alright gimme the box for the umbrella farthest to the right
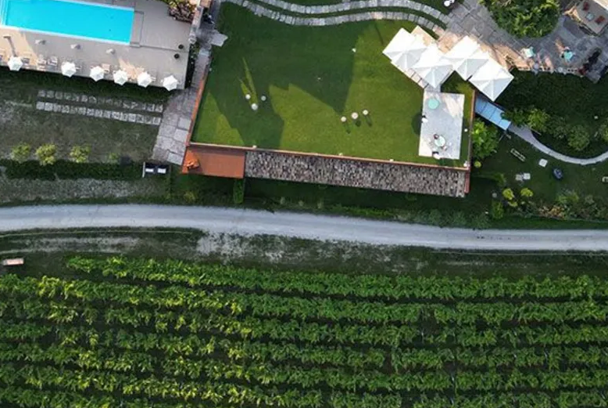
[469,51,515,101]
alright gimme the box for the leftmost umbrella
[9,55,23,71]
